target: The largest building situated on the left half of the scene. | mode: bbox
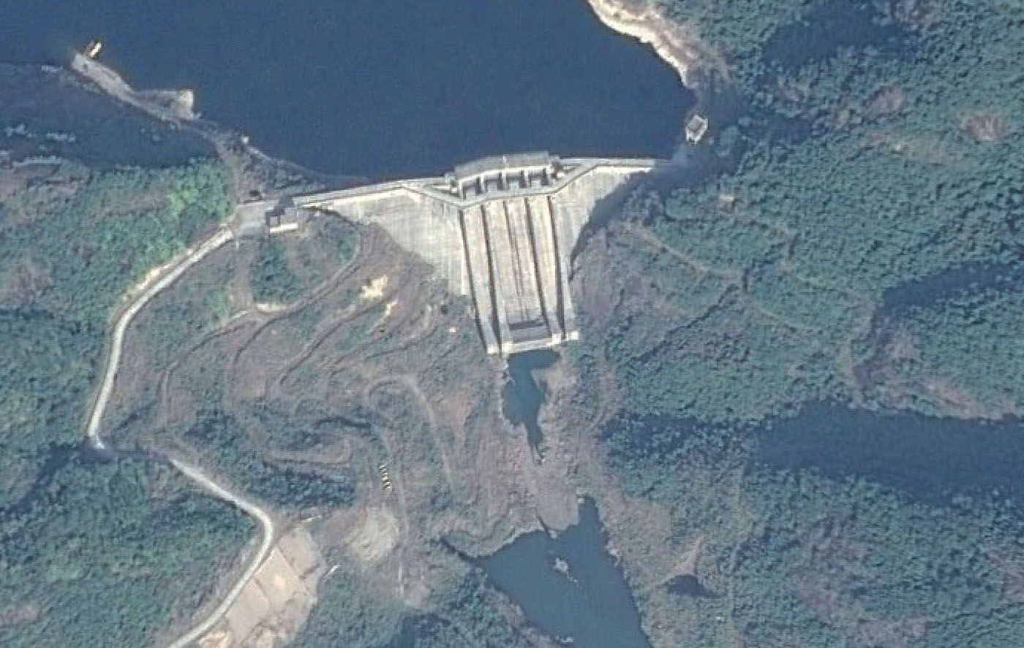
[268,209,300,232]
